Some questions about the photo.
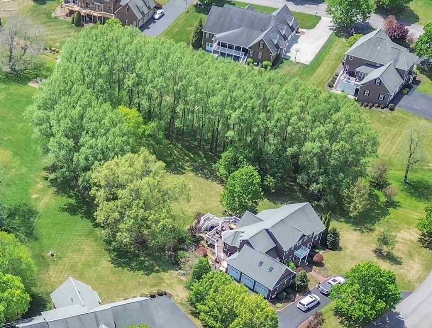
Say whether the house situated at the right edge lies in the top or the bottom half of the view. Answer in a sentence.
Seen from above, the house situated at the right edge lies in the top half of the view.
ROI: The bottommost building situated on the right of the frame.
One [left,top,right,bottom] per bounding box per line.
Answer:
[198,203,323,299]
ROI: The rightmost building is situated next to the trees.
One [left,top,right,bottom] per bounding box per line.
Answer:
[334,24,422,107]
